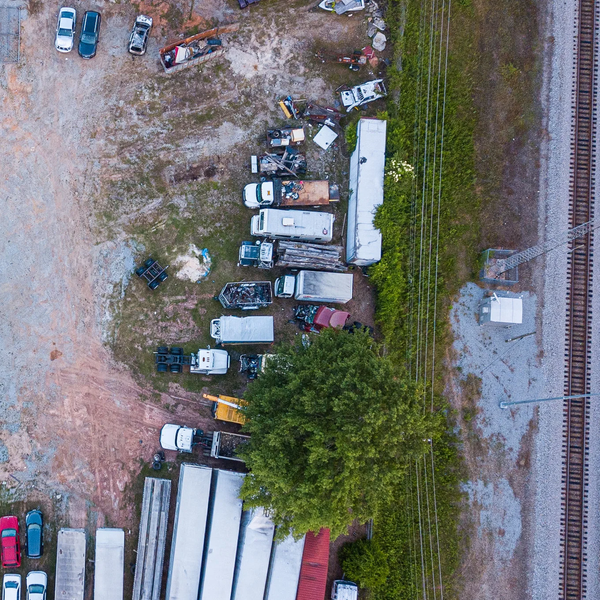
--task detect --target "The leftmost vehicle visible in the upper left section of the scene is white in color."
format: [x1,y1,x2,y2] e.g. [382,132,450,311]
[55,5,76,54]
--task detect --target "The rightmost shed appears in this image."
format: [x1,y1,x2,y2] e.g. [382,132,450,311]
[488,290,535,330]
